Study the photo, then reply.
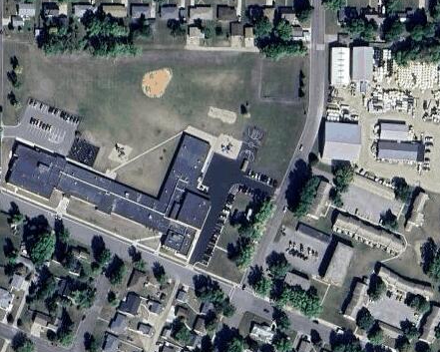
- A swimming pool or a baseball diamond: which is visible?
baseball diamond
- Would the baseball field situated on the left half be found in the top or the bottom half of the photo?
top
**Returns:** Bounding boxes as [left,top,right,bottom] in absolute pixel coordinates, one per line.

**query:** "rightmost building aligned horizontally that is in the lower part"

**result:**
[404,278,436,298]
